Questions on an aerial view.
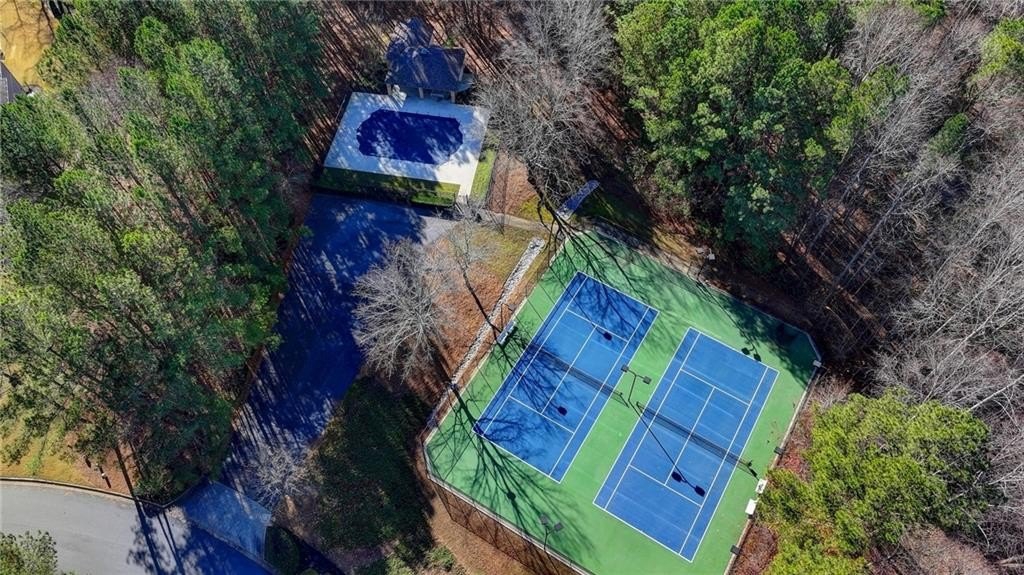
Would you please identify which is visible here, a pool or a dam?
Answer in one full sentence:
There is a pool in the scene.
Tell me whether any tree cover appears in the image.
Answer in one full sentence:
Yes, some tree cover is visible.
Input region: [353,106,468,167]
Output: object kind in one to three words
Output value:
swimming pool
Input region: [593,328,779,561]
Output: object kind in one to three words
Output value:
tennis court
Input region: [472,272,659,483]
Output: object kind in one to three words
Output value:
tennis court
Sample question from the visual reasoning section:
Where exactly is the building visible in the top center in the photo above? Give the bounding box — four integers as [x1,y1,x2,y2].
[384,18,465,102]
